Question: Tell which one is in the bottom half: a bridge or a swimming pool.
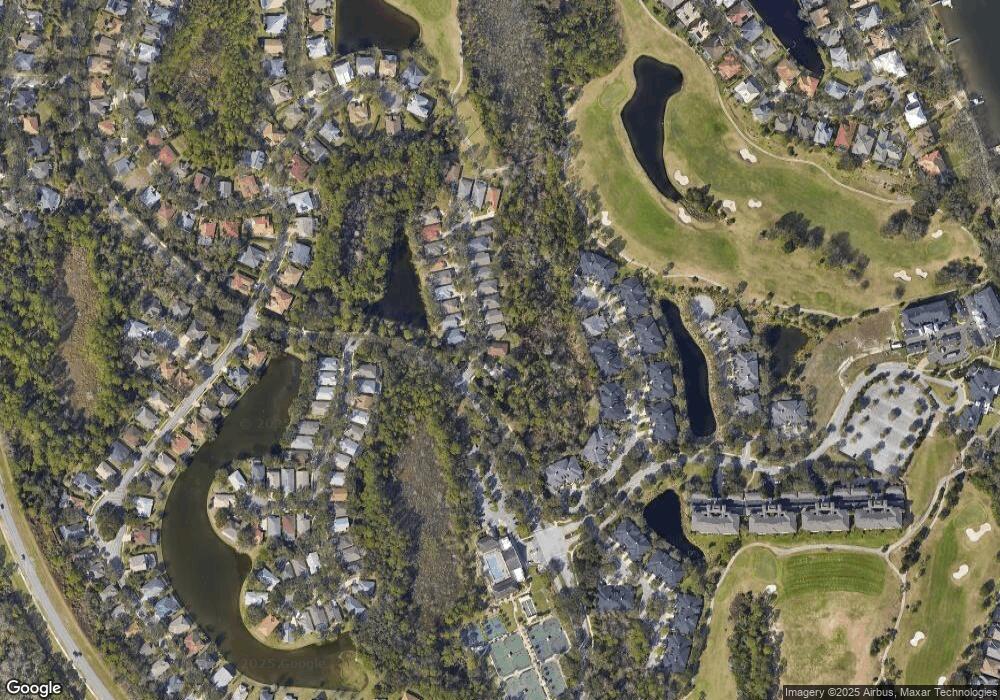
swimming pool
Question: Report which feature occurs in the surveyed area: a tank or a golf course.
golf course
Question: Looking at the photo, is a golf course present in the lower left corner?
No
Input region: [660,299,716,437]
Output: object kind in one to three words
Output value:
pond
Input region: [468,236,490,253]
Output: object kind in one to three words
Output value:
house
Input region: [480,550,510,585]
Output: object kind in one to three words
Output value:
swimming pool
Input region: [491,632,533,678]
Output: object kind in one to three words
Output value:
tennis court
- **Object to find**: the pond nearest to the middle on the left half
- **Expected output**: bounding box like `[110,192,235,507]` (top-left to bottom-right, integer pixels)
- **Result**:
[368,216,428,330]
